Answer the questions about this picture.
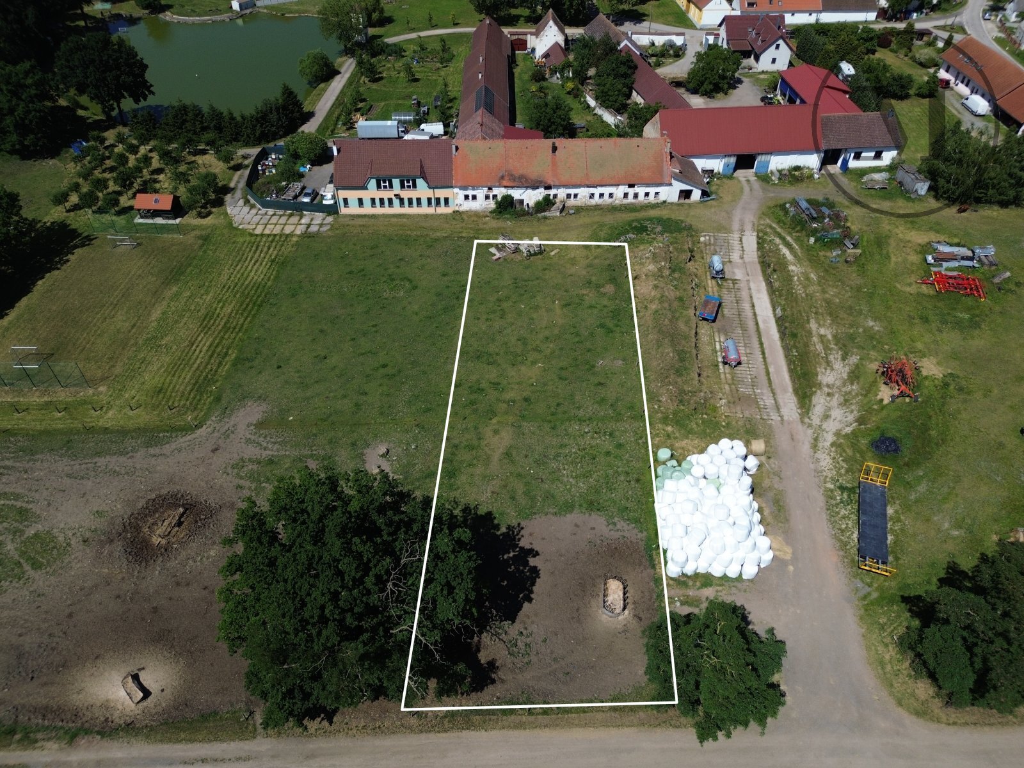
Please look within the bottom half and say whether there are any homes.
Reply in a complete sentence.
No, no home can be made out within the bottom half.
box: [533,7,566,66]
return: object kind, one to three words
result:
house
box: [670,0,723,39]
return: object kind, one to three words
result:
house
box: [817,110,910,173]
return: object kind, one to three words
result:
shed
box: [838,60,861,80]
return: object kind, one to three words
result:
camper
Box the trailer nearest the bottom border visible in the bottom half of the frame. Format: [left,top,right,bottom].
[856,468,896,575]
